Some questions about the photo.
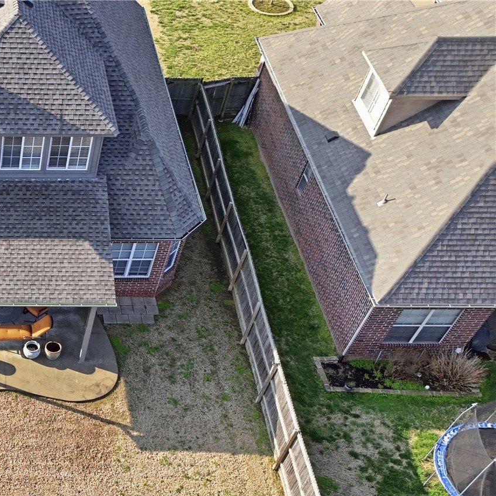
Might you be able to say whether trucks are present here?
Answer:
No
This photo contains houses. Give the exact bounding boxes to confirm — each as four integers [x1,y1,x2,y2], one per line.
[241,0,496,364]
[0,0,211,361]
